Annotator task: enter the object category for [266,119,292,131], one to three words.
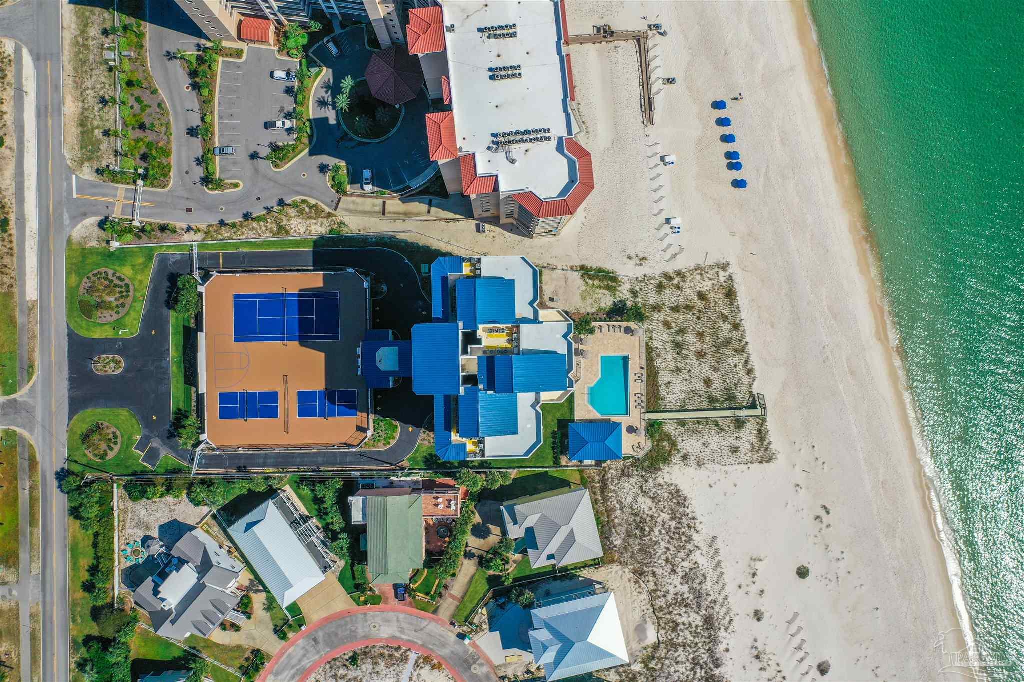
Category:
vehicle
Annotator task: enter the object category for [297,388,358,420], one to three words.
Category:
sports court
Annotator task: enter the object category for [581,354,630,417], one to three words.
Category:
swimming pool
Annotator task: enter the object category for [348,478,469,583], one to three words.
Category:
house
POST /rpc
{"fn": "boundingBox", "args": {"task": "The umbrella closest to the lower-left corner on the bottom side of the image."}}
[145,539,160,554]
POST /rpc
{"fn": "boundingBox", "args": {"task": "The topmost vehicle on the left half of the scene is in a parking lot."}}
[324,35,341,58]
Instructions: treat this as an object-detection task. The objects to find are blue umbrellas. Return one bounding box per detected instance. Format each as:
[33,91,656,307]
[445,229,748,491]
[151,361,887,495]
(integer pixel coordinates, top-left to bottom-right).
[725,134,735,143]
[730,151,740,160]
[716,101,726,110]
[737,179,746,189]
[732,161,742,170]
[721,117,730,127]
